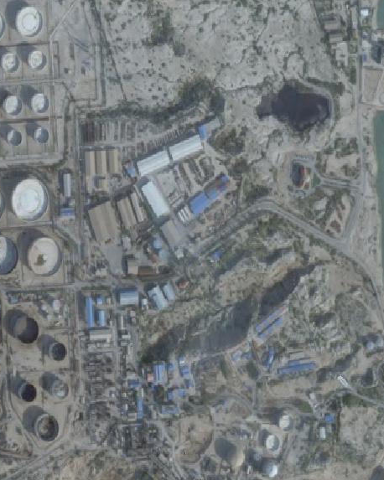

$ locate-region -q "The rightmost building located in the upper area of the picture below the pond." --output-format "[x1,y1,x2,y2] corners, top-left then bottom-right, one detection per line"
[294,162,310,187]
